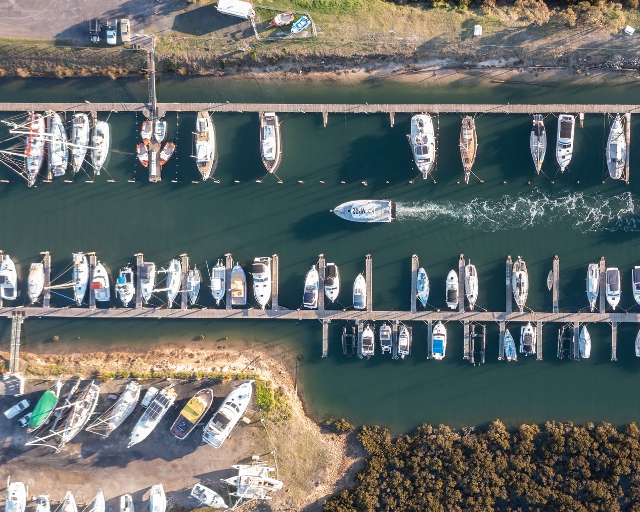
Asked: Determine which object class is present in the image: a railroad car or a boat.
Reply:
boat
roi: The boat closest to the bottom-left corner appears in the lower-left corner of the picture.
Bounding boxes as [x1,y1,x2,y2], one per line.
[6,480,28,512]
